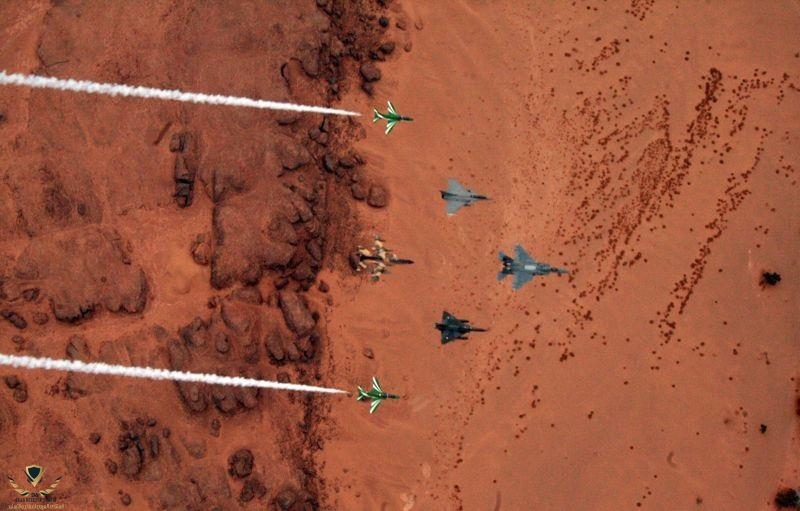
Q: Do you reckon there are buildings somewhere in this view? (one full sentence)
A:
No, no building is visible in the scene.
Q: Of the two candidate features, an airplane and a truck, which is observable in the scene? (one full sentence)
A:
The image shows an airplane.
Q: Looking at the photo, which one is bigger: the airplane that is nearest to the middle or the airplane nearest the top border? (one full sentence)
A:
Compared with the airplane nearest the top border, the airplane that is nearest to the middle is the bigger one.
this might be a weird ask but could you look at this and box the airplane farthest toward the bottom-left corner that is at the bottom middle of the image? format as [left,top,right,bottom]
[357,376,400,413]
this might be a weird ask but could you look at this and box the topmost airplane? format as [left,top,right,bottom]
[373,99,414,134]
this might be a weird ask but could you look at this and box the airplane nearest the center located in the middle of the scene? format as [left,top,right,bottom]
[357,236,416,281]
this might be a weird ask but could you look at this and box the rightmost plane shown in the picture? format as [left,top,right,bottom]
[498,244,568,291]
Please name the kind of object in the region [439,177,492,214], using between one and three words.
airplane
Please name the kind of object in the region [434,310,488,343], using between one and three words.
airplane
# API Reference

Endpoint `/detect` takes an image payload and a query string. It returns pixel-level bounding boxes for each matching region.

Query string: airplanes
[373,99,414,134]
[357,236,416,281]
[357,376,400,413]
[434,310,488,343]
[498,244,568,291]
[439,177,492,214]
